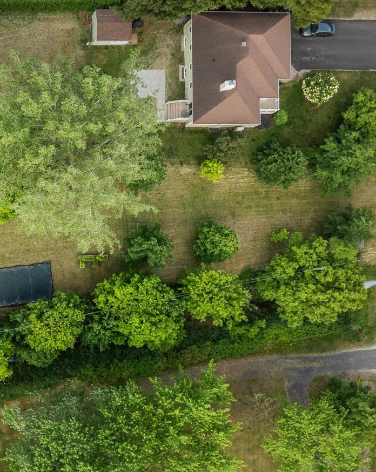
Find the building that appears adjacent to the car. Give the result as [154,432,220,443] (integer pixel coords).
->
[177,11,292,131]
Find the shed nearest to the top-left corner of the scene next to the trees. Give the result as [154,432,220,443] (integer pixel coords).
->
[92,9,136,47]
